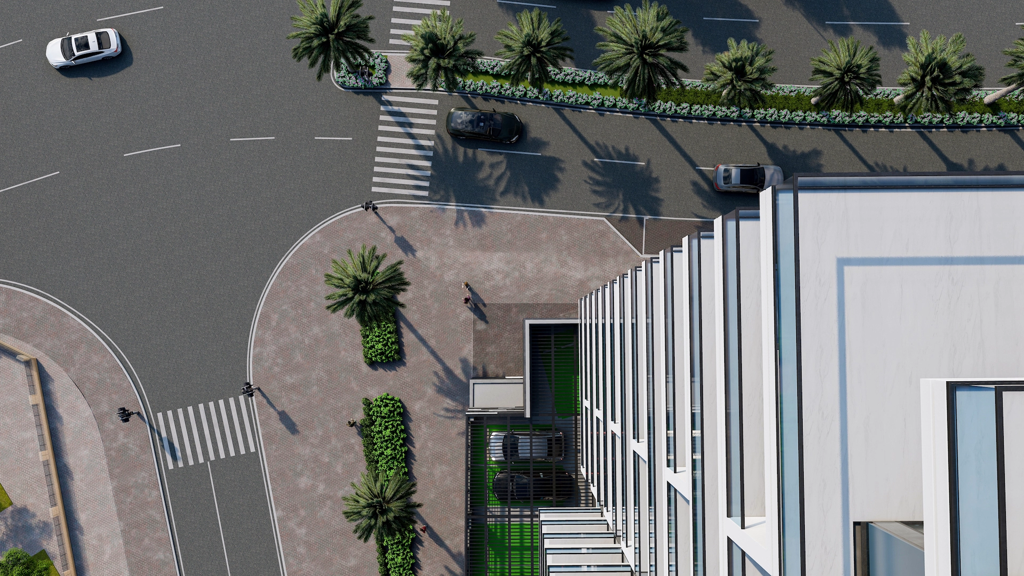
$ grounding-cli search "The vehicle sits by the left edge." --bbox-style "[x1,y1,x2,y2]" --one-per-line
[47,30,124,70]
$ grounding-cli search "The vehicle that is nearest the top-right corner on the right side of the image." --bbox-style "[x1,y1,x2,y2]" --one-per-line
[712,160,783,193]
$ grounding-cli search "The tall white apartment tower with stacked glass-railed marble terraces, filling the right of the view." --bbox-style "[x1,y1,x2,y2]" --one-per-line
[538,169,1024,576]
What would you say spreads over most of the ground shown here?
paved ground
